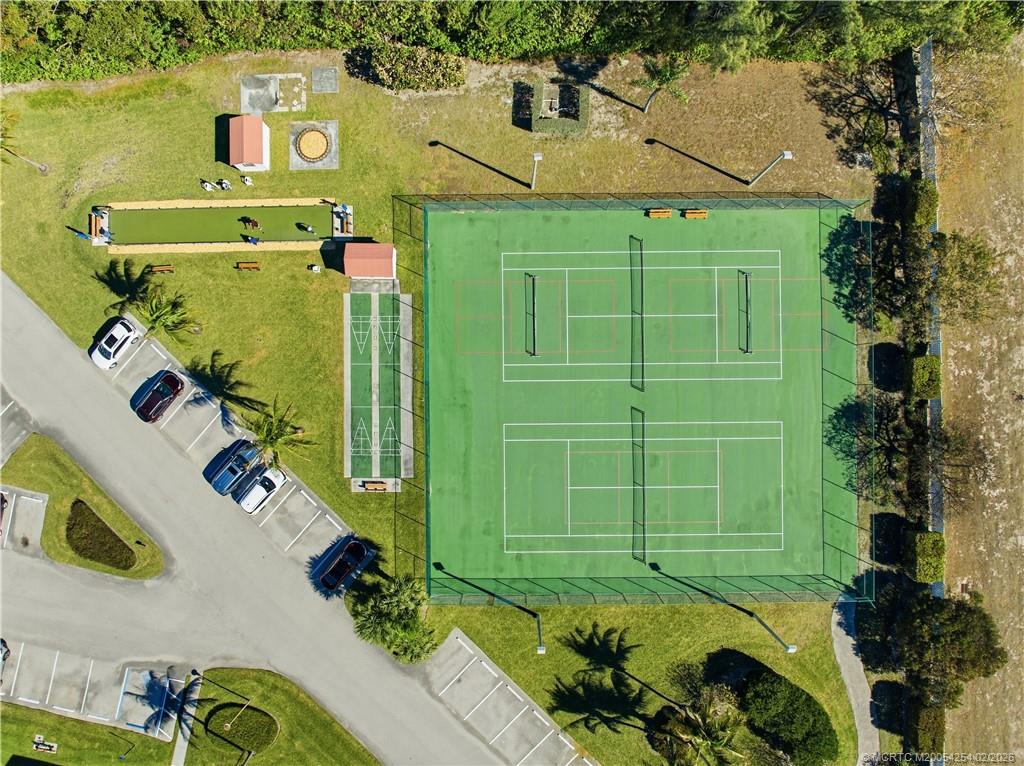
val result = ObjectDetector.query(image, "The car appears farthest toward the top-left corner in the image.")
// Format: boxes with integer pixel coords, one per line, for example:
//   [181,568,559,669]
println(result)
[88,320,138,372]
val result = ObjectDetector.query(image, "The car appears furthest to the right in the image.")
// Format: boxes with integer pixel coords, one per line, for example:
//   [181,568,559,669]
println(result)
[319,542,367,593]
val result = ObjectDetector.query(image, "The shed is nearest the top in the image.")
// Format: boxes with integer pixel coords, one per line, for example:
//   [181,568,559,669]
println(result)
[229,112,270,171]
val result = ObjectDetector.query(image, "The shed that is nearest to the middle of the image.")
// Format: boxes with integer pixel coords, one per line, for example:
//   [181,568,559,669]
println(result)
[344,243,398,280]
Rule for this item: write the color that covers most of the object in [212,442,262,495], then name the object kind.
blue car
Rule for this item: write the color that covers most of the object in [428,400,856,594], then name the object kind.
green tennis court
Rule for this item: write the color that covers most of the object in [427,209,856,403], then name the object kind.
green tennis court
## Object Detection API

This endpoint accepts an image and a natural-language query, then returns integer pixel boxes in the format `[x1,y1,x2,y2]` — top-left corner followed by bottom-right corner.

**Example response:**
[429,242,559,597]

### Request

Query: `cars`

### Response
[212,442,262,495]
[240,467,288,518]
[0,640,10,685]
[319,542,367,593]
[134,372,184,423]
[88,320,138,372]
[0,492,8,524]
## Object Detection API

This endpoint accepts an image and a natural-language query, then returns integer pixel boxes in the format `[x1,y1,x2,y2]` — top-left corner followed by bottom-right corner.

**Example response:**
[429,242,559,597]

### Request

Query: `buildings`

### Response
[344,243,398,280]
[229,112,270,171]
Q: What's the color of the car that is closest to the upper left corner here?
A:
white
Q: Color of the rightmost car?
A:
black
